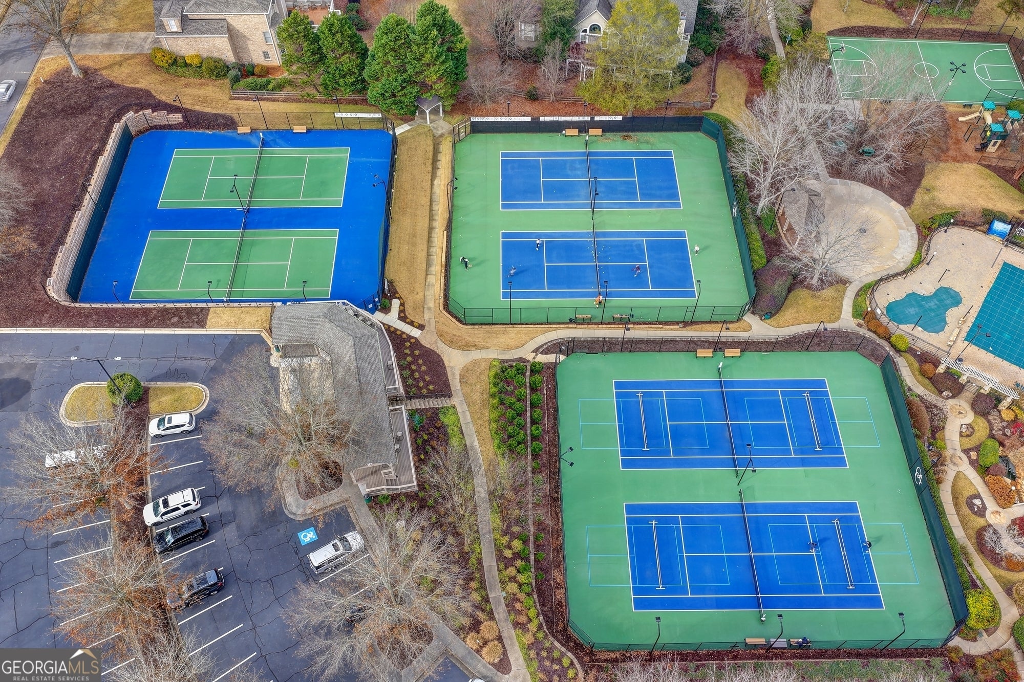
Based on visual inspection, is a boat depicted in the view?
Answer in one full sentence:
No, no boat is visible in the view.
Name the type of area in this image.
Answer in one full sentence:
The picture captures a sports ground.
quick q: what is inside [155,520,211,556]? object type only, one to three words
car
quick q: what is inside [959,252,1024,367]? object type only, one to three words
swimming pool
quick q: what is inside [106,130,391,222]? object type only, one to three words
tennis court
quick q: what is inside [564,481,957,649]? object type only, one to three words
tennis court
